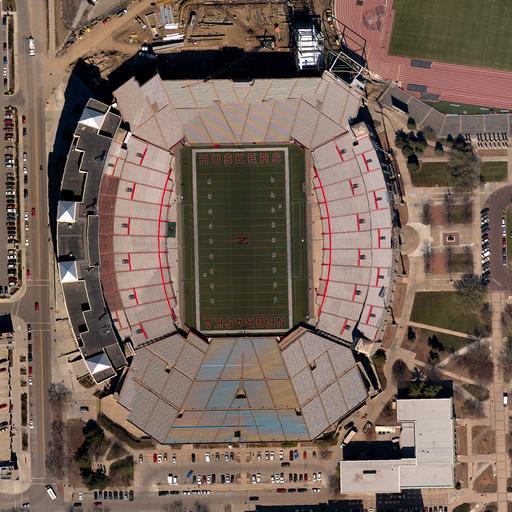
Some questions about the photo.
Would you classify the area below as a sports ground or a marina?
sports ground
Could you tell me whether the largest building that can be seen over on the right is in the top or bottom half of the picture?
bottom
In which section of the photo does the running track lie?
top right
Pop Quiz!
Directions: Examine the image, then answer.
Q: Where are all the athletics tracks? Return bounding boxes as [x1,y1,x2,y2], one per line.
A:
[334,0,512,106]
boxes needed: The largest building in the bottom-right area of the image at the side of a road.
[340,398,456,494]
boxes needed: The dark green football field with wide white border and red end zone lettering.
[166,142,322,340]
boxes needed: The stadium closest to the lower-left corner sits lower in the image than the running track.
[100,70,402,444]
